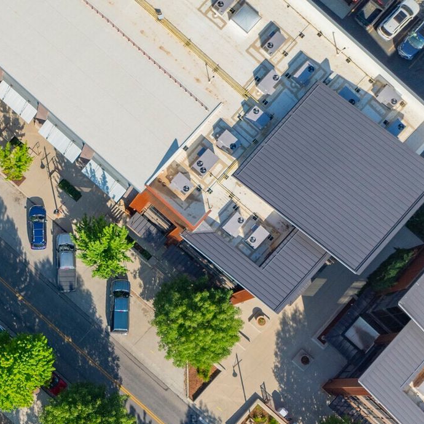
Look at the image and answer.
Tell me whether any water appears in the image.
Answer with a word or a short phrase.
No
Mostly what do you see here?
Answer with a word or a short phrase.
buildings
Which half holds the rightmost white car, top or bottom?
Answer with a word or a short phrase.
top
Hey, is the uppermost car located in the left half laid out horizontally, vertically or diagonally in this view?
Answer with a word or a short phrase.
vertically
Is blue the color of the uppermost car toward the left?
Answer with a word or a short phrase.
Yes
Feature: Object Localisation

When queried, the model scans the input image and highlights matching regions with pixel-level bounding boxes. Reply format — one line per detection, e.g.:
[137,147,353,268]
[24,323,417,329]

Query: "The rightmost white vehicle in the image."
[379,0,422,40]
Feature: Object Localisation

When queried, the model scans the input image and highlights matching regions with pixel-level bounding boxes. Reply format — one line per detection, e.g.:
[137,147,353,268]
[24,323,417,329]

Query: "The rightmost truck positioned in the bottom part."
[112,280,134,334]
